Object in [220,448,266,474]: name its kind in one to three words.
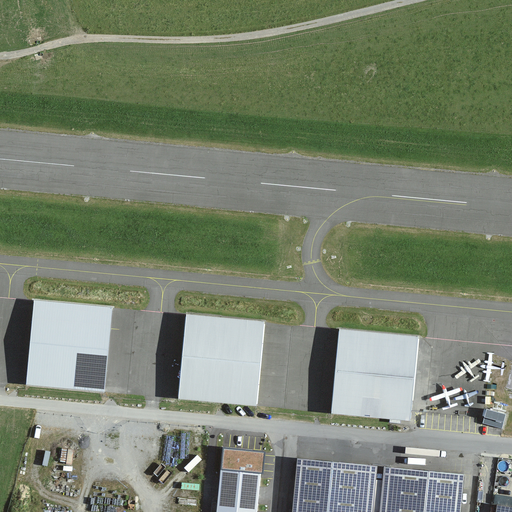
building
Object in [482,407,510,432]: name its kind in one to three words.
building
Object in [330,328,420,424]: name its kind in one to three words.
hangar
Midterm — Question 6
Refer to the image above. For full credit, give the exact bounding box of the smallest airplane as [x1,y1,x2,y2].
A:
[454,390,479,406]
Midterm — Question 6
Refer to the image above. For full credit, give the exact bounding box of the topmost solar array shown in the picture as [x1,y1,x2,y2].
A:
[72,353,106,388]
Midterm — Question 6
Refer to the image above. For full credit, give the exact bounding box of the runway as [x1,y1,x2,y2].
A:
[0,129,512,236]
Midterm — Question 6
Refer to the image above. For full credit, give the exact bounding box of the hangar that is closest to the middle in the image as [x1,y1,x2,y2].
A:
[177,312,266,406]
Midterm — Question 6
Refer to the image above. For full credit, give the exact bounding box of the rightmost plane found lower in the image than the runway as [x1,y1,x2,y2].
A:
[480,352,504,382]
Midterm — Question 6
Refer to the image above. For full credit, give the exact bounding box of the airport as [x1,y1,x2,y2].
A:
[0,129,512,437]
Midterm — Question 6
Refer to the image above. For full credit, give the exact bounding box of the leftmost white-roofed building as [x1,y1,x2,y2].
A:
[24,298,114,392]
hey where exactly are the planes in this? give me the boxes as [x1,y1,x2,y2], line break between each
[430,385,464,409]
[454,390,479,406]
[454,358,481,381]
[480,352,504,382]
